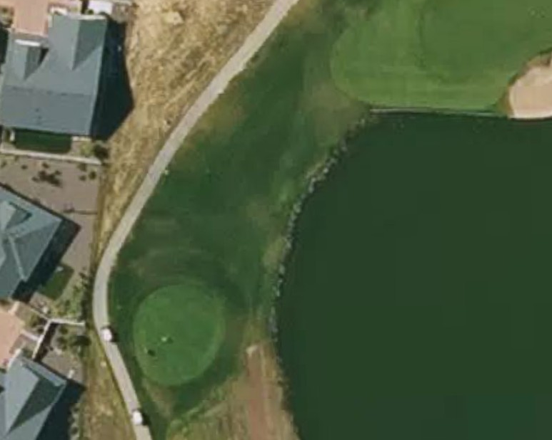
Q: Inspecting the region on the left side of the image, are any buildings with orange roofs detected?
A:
No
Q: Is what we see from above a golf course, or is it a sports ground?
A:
golf course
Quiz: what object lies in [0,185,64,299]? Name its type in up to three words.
house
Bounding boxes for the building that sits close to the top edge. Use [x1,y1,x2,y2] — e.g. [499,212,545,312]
[0,16,108,137]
